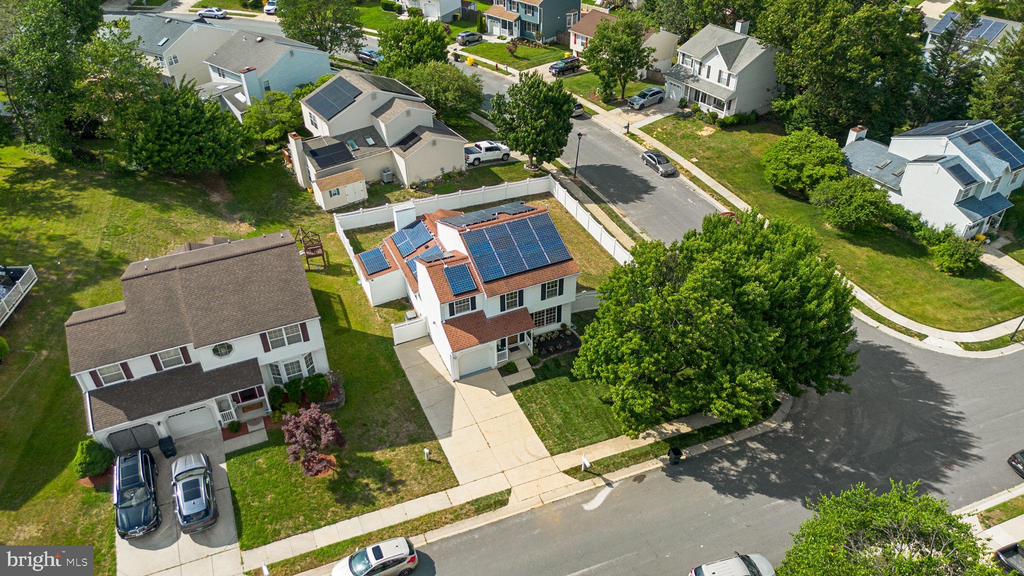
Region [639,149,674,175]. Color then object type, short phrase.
gray car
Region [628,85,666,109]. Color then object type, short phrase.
gray car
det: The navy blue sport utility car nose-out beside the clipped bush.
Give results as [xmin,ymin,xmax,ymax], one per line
[111,453,160,538]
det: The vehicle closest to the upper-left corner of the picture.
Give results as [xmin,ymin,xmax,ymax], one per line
[196,8,229,20]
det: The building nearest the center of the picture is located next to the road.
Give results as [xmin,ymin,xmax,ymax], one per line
[353,202,582,382]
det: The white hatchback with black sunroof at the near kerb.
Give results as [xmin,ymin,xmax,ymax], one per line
[332,537,420,576]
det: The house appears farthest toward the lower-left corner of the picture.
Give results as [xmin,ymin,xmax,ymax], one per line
[66,227,328,459]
